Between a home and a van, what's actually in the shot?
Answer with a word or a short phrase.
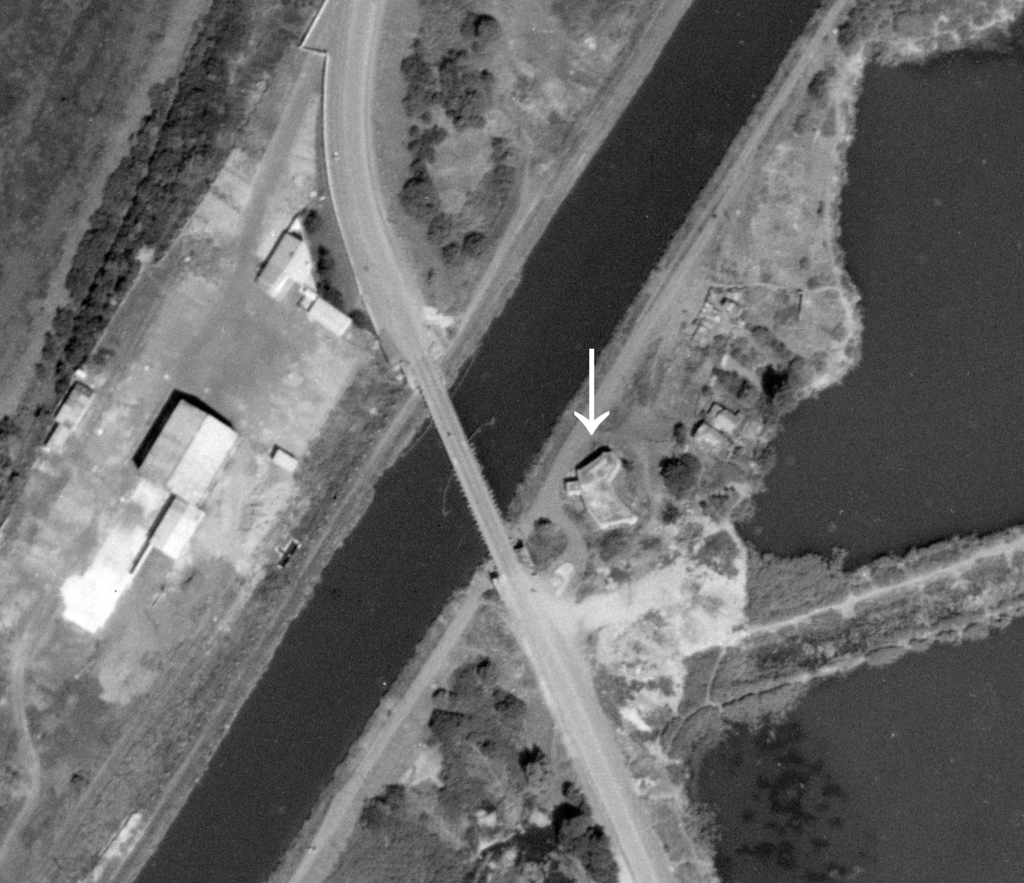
home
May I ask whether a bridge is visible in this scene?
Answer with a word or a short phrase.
Yes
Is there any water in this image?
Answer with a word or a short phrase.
Yes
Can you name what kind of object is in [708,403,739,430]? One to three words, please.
house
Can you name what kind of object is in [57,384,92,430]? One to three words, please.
house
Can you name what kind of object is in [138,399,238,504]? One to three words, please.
barn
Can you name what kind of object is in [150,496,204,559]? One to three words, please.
shed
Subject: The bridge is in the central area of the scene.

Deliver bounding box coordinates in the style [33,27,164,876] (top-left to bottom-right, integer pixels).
[410,369,525,573]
